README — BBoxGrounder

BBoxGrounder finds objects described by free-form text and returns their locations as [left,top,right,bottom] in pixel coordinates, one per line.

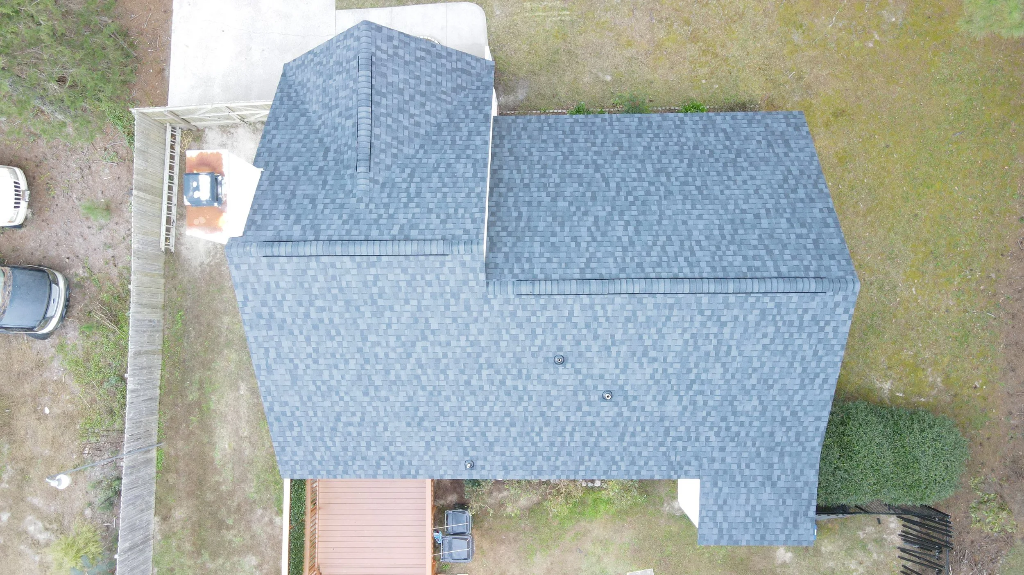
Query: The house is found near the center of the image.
[183,20,861,547]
